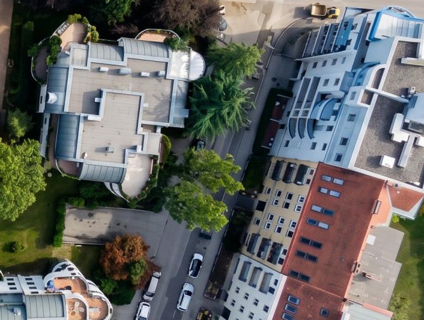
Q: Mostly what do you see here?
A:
buildings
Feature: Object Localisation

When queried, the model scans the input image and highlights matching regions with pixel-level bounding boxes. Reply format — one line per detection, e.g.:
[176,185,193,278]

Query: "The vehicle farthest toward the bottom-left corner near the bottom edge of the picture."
[133,300,150,320]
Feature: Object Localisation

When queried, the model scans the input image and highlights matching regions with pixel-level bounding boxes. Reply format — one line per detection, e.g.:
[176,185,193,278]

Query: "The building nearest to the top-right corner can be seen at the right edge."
[270,6,424,194]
